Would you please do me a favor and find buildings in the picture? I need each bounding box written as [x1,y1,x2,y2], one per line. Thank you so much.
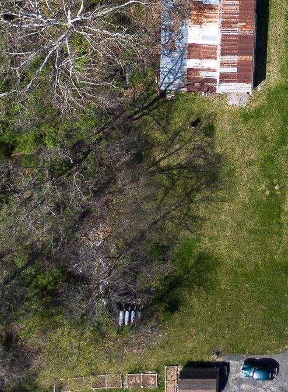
[177,370,219,392]
[159,0,259,95]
